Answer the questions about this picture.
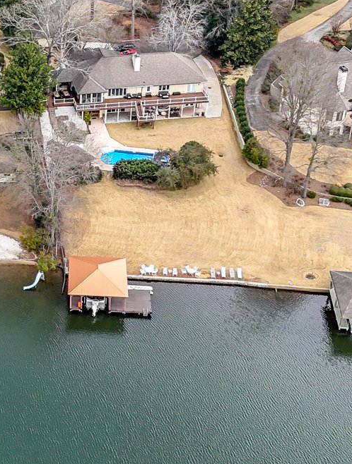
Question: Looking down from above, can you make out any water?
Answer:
Yes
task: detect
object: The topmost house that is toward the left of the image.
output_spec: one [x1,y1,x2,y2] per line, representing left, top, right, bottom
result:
[39,43,215,131]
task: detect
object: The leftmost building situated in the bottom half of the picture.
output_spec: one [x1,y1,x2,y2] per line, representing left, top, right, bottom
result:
[66,256,153,321]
